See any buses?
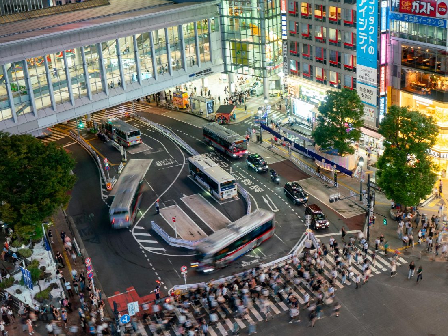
Yes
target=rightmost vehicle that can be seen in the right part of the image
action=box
[304,198,330,223]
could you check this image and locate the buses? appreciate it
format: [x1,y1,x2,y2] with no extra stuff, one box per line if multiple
[181,205,278,272]
[94,112,142,144]
[195,119,249,156]
[111,169,150,226]
[186,148,238,196]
